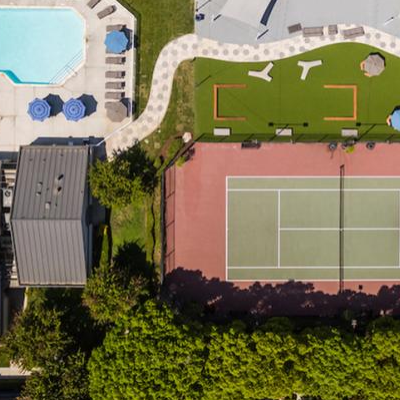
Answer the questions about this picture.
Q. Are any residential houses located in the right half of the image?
No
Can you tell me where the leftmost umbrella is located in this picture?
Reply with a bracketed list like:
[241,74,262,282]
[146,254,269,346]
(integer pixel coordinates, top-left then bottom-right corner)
[29,100,50,120]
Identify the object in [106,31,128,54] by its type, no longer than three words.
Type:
umbrella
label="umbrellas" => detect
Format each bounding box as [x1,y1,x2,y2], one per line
[64,99,86,121]
[389,107,400,130]
[29,100,50,120]
[106,31,128,54]
[363,54,385,76]
[106,101,128,122]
